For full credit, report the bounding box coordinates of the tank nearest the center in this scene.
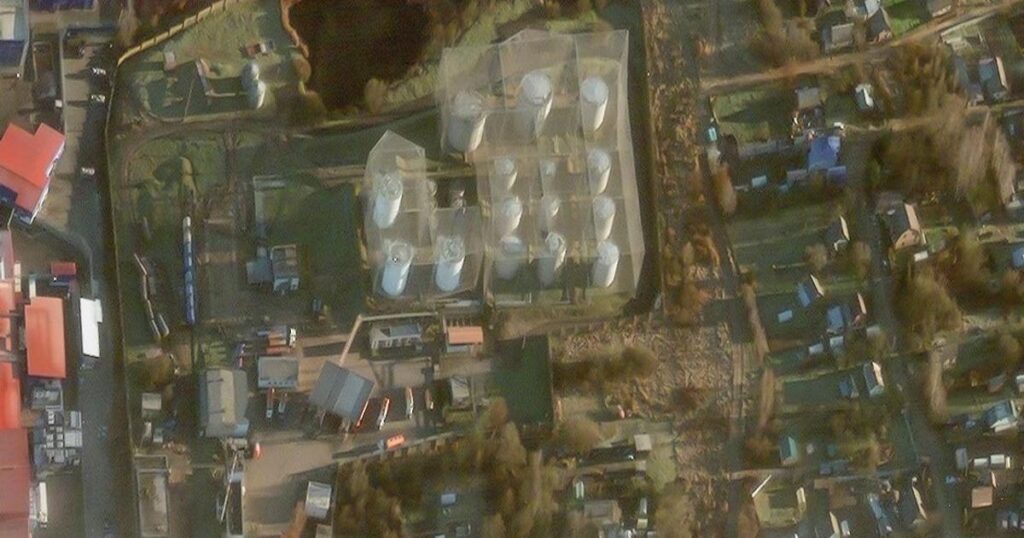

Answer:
[494,229,524,283]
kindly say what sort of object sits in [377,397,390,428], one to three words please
vehicle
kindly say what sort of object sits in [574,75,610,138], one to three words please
storage tank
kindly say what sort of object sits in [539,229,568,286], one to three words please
storage tank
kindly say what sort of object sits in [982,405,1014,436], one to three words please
house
